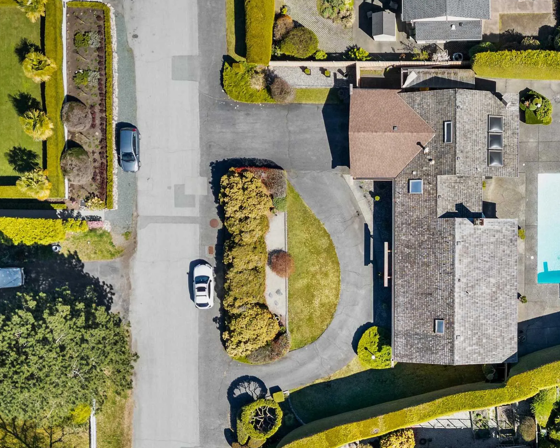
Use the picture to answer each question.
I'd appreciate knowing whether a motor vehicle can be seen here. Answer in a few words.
Yes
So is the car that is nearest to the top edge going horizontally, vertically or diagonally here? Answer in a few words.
vertically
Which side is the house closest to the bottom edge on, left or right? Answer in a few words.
right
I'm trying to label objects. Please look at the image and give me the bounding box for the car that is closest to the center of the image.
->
[190,262,215,310]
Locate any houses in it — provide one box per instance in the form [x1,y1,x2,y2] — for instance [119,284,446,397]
[348,83,519,366]
[401,0,491,42]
